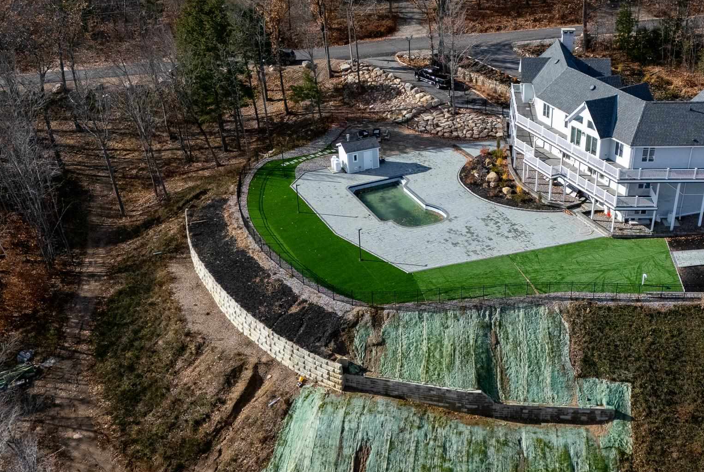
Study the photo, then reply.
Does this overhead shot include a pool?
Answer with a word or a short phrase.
Yes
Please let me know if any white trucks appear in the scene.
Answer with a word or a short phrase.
No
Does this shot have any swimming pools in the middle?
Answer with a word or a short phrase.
Yes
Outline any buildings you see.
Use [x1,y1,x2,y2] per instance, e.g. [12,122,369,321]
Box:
[516,25,704,217]
[337,128,381,173]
